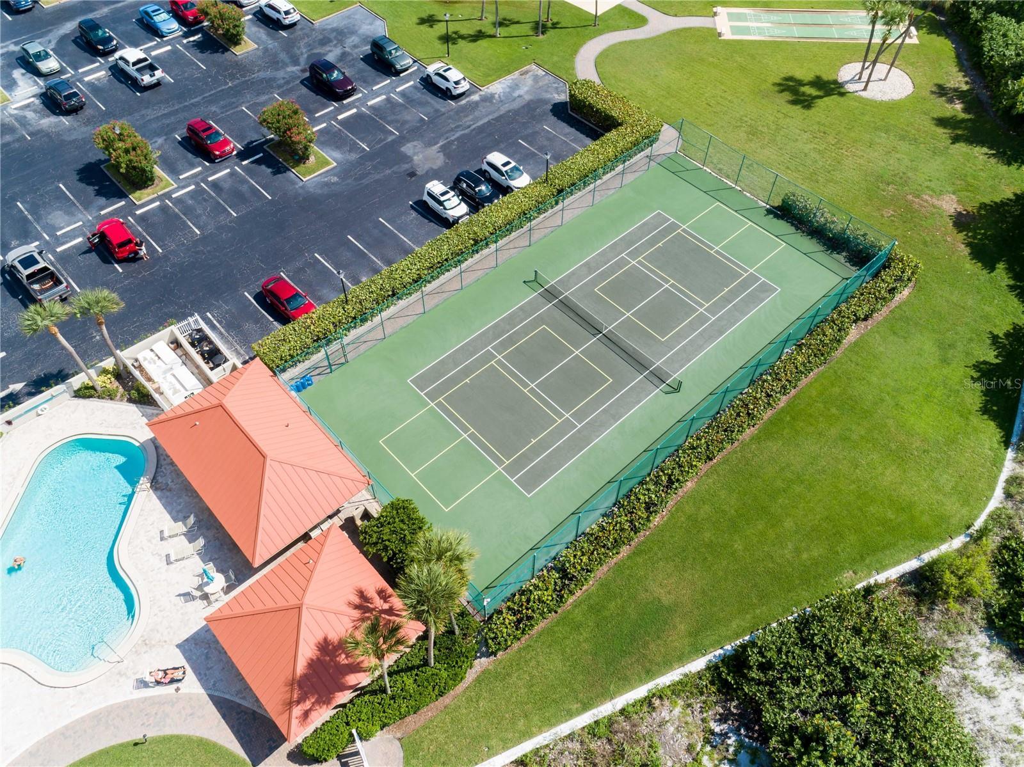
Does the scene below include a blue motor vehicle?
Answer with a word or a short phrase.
Yes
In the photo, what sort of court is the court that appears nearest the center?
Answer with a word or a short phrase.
tennis court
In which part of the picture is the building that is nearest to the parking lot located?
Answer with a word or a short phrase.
left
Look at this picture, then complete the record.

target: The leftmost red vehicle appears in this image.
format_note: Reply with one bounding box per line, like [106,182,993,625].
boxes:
[88,218,146,258]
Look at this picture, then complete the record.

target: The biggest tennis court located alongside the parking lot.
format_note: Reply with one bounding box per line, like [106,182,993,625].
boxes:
[294,151,866,622]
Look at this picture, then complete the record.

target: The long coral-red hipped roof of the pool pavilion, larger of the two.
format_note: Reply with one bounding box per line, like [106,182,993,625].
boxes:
[146,356,371,571]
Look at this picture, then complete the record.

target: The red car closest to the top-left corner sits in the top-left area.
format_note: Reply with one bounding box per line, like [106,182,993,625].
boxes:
[165,0,204,24]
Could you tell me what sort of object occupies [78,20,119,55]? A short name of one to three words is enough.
car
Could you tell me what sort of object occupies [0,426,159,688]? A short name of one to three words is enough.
swimming pool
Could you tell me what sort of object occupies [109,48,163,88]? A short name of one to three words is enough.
truck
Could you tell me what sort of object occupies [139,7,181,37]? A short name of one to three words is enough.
car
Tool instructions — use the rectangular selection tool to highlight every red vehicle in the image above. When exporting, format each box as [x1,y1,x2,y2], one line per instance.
[259,275,314,325]
[165,0,204,24]
[187,119,235,163]
[88,218,146,258]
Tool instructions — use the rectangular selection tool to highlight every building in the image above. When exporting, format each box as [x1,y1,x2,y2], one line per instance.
[203,522,419,745]
[146,356,371,571]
